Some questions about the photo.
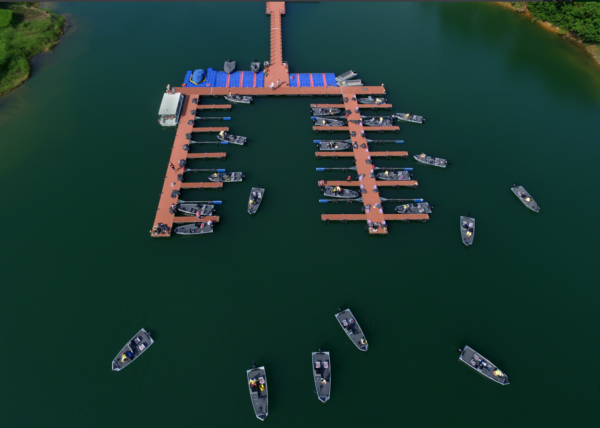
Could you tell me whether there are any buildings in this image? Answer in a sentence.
No, no building can be seen from above.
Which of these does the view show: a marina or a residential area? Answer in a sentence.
This image shows a marina.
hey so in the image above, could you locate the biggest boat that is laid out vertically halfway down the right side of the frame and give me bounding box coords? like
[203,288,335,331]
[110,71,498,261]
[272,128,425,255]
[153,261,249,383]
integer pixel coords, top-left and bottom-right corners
[459,213,475,246]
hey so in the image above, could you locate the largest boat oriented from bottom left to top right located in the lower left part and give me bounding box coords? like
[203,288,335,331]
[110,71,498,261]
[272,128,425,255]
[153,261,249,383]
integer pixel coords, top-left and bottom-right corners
[111,329,156,372]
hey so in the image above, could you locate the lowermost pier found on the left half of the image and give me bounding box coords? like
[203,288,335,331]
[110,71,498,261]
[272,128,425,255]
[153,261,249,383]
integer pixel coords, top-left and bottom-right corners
[151,94,232,237]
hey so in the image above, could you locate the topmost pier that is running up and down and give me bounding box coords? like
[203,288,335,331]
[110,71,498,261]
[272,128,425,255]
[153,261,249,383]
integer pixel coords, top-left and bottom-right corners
[264,0,288,87]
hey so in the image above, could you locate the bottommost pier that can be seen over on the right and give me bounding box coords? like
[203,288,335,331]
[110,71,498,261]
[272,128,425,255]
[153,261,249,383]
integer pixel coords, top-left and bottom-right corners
[311,94,428,235]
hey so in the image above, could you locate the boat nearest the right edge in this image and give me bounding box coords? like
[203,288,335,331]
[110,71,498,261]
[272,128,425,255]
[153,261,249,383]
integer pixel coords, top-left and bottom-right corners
[510,184,540,212]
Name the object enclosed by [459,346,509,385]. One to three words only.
boat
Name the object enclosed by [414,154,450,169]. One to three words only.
boat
